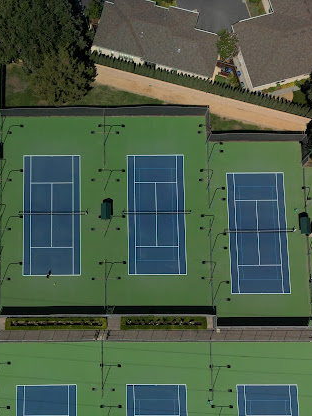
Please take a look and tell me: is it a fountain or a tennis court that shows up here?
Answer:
tennis court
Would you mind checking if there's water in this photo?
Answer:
No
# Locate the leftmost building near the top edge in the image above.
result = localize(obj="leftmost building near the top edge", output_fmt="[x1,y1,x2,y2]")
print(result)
[92,0,217,84]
